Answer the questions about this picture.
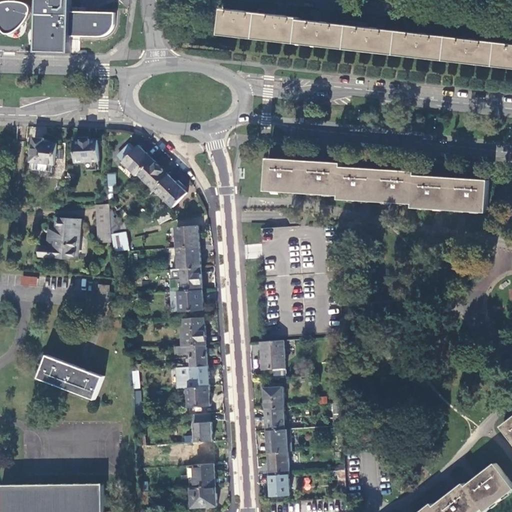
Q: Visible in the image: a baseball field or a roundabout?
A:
roundabout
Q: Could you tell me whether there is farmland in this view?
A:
No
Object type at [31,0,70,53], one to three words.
building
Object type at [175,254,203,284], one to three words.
house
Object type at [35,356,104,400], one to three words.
building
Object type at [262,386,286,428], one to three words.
house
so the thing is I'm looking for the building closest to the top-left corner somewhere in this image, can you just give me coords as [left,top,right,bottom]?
[0,0,31,34]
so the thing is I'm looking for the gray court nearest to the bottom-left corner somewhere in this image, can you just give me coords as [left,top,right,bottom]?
[21,422,121,490]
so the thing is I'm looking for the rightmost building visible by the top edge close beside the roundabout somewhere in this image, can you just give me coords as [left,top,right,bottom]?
[214,9,512,70]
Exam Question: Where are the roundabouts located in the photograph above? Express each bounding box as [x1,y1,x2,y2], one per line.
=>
[133,71,237,124]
